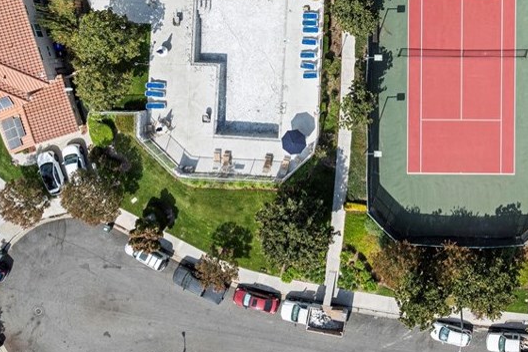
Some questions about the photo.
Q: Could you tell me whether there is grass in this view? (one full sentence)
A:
Yes, the picture does contain grass.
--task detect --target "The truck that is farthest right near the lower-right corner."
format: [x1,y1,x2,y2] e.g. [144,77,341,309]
[485,328,528,352]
